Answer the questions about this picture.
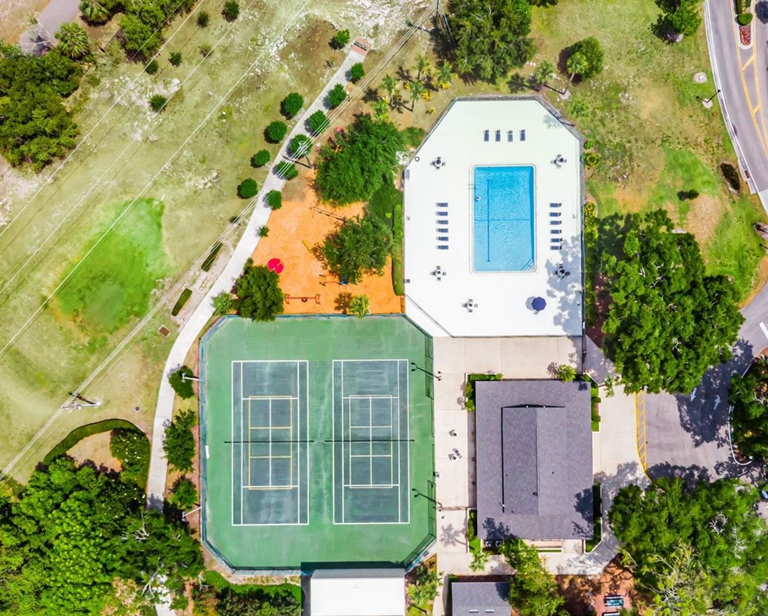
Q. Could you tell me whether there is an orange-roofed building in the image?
No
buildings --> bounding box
[309,566,404,616]
[451,579,511,616]
[475,380,593,541]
